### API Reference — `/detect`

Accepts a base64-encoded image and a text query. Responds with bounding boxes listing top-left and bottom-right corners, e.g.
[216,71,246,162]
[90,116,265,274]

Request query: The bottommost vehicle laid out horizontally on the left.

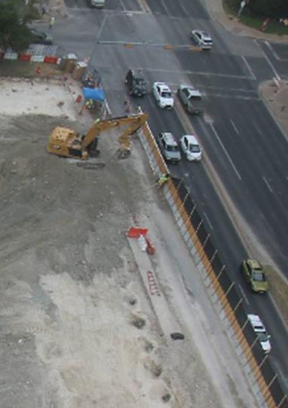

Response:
[50,110,153,159]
